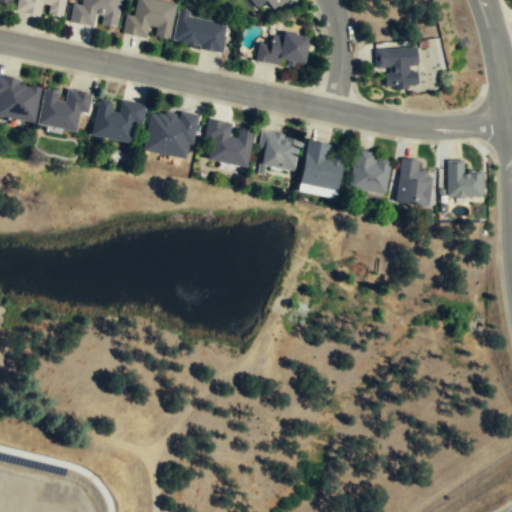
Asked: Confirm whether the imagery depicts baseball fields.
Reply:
No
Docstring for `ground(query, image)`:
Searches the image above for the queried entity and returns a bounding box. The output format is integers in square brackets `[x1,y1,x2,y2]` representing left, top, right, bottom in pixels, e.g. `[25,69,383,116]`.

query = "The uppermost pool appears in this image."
[244,26,262,48]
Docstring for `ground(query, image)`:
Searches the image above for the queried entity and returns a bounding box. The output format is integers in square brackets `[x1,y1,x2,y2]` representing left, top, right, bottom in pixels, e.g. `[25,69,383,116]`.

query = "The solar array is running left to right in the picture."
[0,454,68,475]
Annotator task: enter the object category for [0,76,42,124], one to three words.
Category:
house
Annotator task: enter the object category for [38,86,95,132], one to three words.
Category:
house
